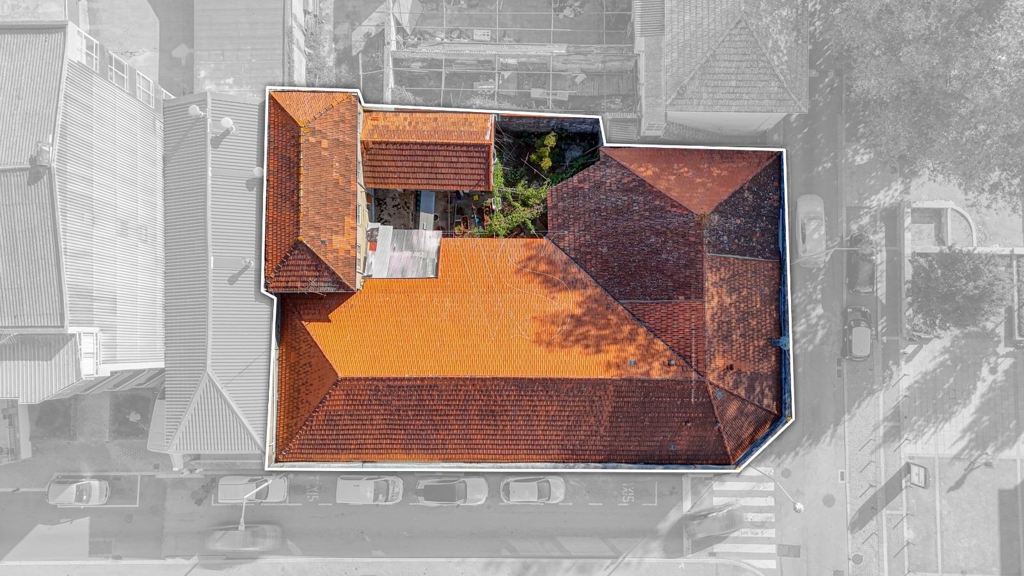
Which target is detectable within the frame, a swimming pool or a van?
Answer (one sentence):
This aerial view contains a van.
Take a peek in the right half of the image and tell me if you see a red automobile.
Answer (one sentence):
No, looking in the right half of the image, there is no red automobile.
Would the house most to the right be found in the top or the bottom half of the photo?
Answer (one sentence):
The house most to the right is in the top half of the image.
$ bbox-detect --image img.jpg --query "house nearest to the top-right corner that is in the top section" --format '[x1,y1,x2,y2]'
[655,0,810,130]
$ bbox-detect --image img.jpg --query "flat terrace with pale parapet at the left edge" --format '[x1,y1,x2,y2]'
[0,401,47,464]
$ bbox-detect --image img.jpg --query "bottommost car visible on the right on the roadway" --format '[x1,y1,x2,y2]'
[677,499,750,542]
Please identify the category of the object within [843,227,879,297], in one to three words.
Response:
car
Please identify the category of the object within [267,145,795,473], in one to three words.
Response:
house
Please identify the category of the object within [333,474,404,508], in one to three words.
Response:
van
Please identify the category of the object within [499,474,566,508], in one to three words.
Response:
car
